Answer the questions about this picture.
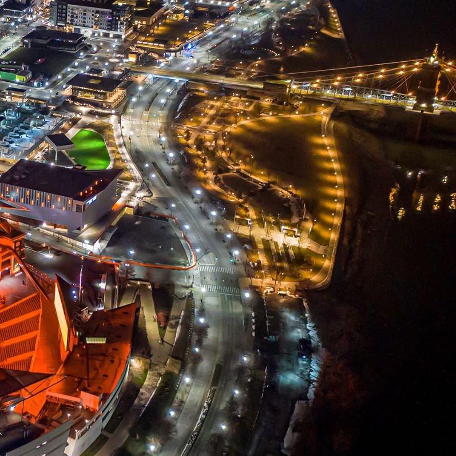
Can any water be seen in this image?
Yes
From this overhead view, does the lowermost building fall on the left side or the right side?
left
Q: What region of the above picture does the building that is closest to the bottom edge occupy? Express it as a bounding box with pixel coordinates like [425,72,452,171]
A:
[0,159,123,231]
